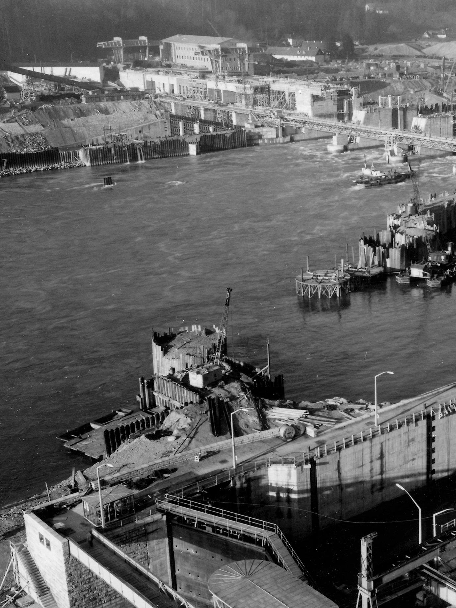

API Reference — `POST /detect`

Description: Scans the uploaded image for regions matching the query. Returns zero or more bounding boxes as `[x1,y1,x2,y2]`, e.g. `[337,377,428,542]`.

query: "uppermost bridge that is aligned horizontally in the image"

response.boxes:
[172,97,456,154]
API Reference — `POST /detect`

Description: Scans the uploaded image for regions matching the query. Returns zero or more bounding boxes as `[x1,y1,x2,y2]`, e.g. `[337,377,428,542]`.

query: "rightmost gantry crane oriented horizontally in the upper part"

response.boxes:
[188,41,259,74]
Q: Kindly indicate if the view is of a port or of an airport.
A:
port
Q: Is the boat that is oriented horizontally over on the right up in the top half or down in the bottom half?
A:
top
